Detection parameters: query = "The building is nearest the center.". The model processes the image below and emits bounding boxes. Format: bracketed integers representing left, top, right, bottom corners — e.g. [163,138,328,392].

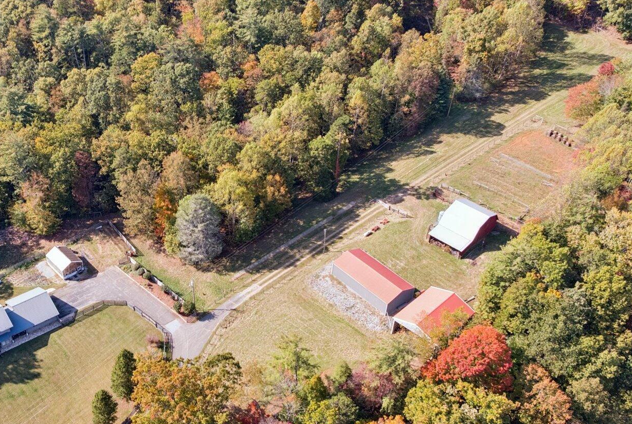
[332,248,416,314]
